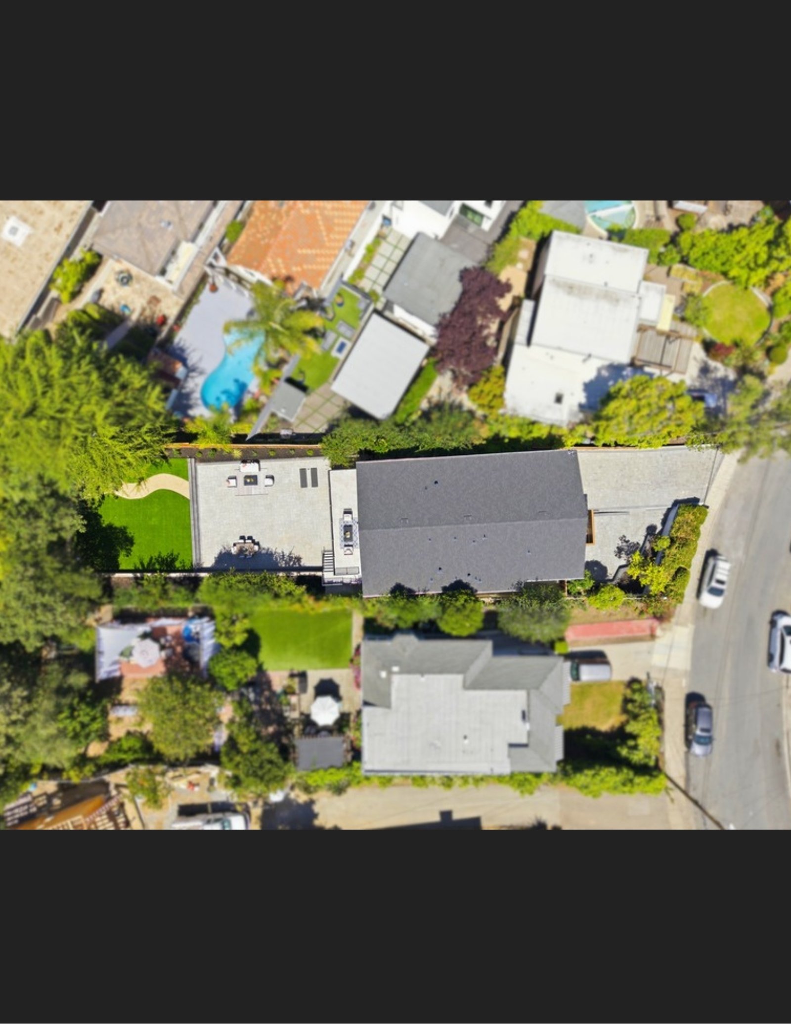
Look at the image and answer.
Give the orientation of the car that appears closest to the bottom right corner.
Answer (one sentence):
In this picture, the car that appears closest to the bottom right corner is oriented up and down.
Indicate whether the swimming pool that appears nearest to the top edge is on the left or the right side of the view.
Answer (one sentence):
It is on the right.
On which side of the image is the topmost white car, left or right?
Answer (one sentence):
The topmost white car is on the right side of the image.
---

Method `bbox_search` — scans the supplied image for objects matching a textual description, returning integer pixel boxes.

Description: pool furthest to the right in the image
[584,199,639,232]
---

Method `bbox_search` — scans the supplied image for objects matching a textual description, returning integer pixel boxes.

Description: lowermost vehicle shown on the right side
[686,700,716,757]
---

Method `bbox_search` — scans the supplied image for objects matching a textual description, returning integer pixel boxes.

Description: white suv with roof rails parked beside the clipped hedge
[695,548,732,609]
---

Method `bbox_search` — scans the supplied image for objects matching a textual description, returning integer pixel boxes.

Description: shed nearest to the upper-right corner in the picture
[663,200,708,224]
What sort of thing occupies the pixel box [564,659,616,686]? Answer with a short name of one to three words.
car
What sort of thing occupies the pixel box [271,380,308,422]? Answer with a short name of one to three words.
shed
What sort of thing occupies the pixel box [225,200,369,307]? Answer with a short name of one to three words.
house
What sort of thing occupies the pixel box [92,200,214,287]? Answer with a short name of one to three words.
house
